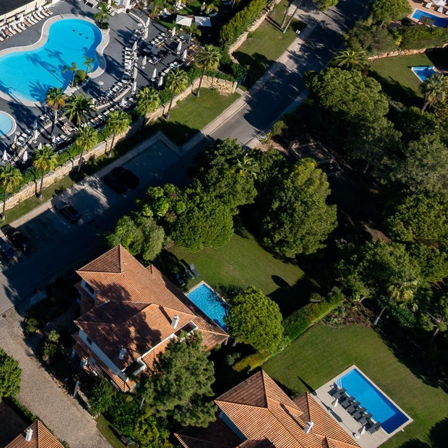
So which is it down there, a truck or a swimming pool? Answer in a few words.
swimming pool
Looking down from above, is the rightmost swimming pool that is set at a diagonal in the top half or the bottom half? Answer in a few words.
bottom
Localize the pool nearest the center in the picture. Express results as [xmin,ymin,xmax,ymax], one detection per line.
[183,280,232,338]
